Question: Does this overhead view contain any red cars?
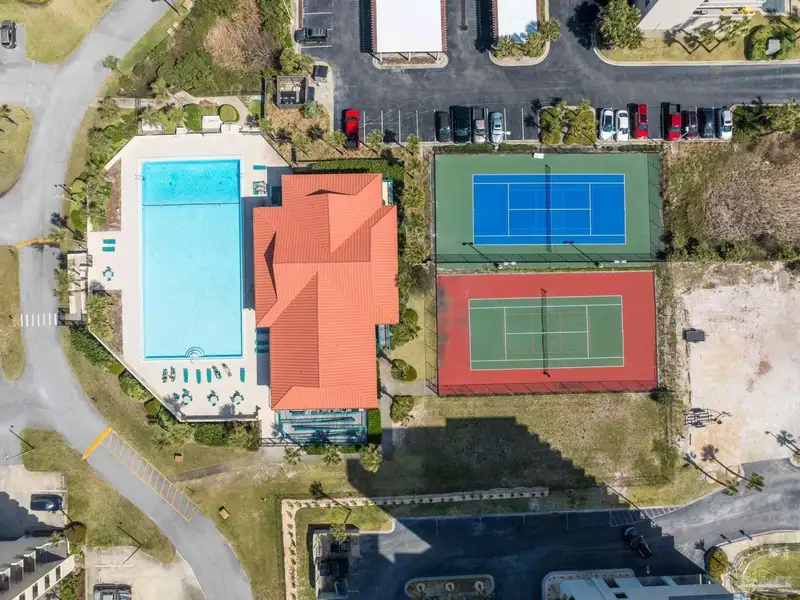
Yes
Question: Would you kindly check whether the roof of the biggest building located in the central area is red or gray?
red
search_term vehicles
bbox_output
[716,109,734,141]
[683,109,700,140]
[472,105,488,144]
[491,112,506,144]
[0,20,17,50]
[616,110,631,142]
[600,109,616,141]
[30,495,63,511]
[438,110,452,143]
[455,106,470,143]
[698,108,716,141]
[343,109,359,148]
[663,102,681,141]
[633,104,651,140]
[295,27,328,45]
[92,586,131,600]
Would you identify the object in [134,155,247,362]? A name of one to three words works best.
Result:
swimming pool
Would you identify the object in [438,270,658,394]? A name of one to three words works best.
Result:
tennis court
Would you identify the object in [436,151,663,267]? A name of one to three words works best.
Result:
tennis court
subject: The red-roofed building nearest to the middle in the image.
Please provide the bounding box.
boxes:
[253,173,398,410]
